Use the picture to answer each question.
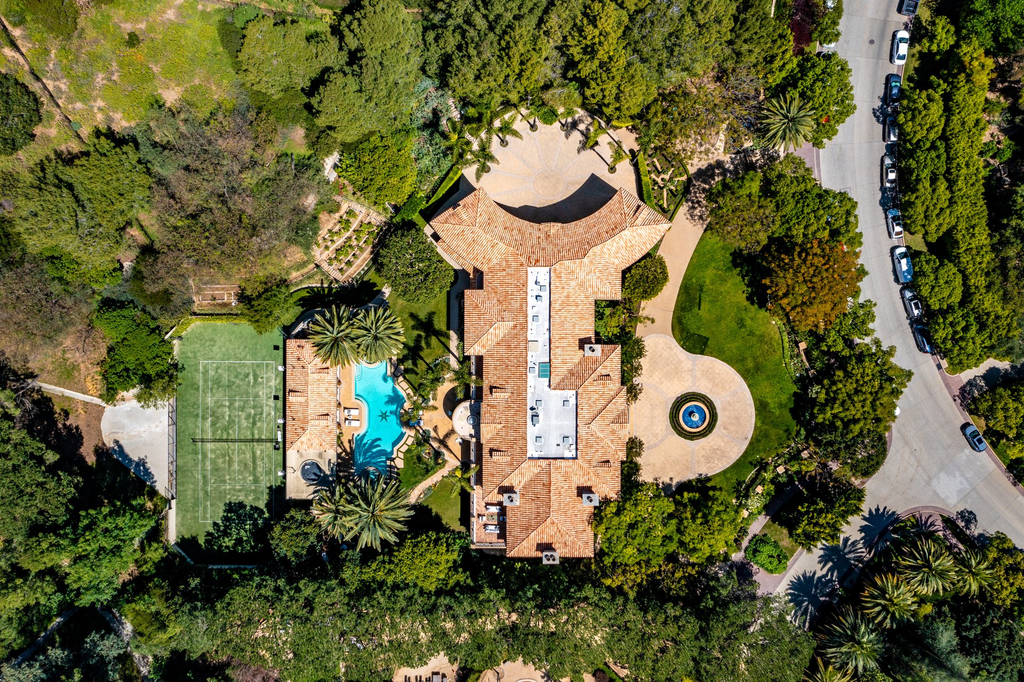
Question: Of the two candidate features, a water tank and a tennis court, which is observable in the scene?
tennis court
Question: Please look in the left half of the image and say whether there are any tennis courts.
Yes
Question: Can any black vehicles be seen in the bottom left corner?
No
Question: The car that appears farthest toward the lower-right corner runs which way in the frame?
on a diagonal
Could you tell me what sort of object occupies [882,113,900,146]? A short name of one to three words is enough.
car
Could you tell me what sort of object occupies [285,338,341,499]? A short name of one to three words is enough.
building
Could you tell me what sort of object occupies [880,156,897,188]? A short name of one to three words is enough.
car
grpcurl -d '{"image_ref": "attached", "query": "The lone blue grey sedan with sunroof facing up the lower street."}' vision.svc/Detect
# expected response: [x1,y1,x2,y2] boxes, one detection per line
[960,421,987,453]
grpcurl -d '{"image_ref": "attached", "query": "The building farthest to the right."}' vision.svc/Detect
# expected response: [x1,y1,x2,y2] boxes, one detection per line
[429,186,672,564]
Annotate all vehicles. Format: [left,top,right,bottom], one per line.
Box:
[892,246,913,284]
[884,74,902,107]
[819,38,833,51]
[911,321,933,354]
[885,209,903,240]
[885,402,900,424]
[890,31,909,64]
[880,156,897,188]
[882,113,900,146]
[901,287,923,319]
[960,421,987,453]
[896,0,914,18]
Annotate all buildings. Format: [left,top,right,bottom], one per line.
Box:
[429,186,672,564]
[285,338,341,499]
